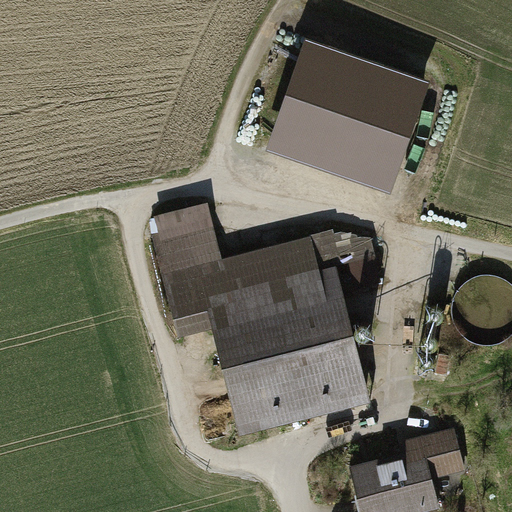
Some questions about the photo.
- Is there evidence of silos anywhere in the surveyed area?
Yes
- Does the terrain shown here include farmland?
Yes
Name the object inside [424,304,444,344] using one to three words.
silo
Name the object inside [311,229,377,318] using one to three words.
shed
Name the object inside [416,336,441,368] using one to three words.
silo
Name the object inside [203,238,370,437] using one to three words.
building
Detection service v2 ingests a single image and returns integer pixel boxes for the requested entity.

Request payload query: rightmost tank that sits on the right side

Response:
[451,274,512,346]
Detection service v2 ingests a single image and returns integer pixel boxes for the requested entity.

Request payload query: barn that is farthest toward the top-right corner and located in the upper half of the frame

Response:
[267,40,428,194]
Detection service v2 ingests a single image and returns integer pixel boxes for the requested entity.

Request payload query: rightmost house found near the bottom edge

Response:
[350,428,464,512]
